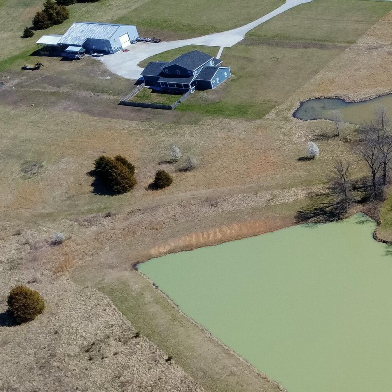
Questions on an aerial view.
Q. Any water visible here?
Yes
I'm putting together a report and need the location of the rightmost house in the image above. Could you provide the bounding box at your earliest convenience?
[139,50,229,92]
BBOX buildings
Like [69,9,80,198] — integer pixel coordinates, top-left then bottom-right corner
[54,21,140,55]
[139,50,229,92]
